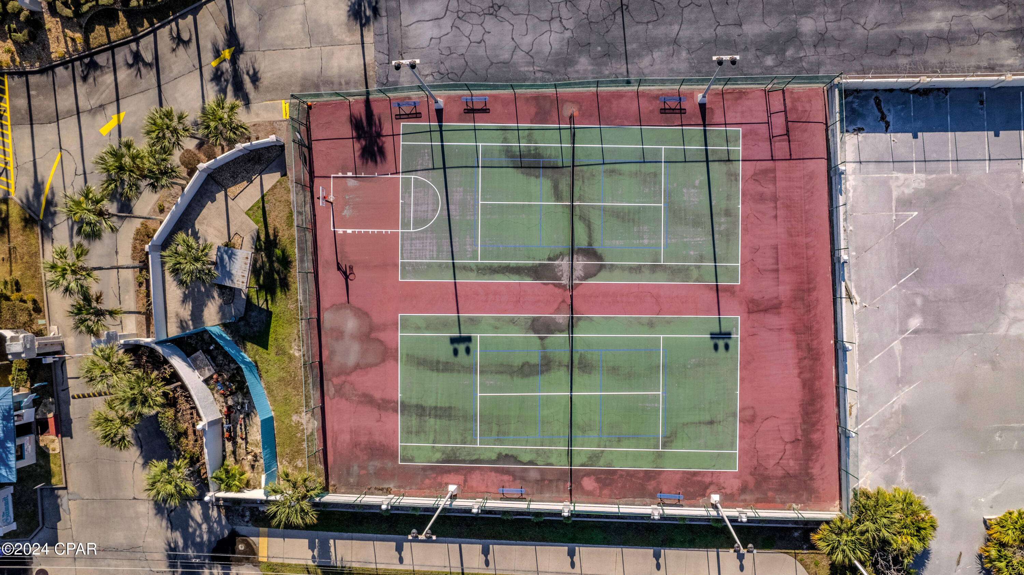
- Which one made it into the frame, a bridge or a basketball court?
basketball court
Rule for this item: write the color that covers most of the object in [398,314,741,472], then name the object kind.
green tennis court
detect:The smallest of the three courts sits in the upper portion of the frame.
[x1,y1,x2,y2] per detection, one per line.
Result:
[331,172,441,233]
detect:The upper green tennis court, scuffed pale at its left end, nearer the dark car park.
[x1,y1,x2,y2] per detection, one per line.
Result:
[398,123,742,284]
